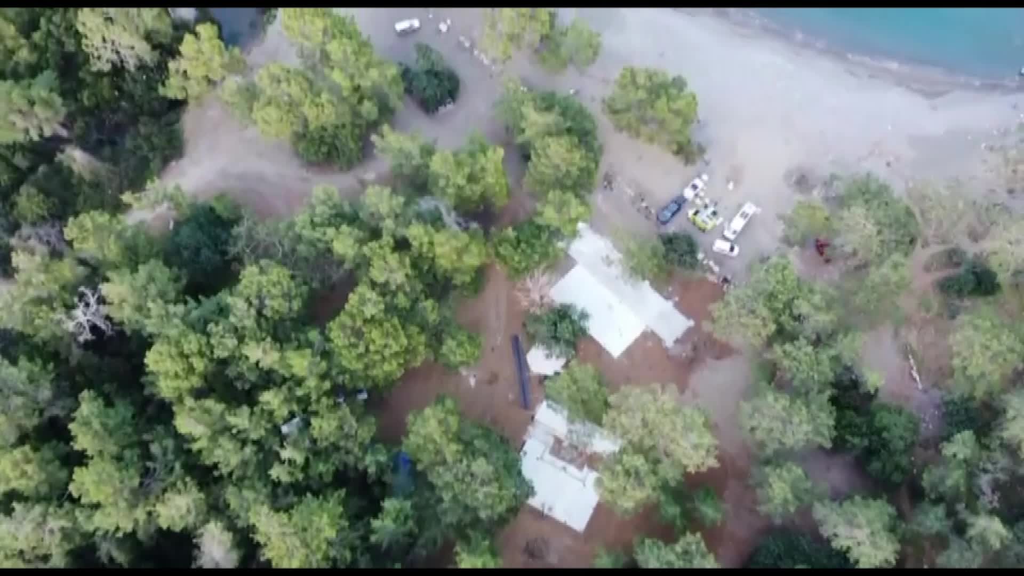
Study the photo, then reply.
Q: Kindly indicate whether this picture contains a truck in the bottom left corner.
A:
No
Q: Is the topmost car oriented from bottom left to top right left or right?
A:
right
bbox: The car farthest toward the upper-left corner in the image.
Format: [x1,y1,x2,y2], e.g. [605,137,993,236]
[392,16,422,33]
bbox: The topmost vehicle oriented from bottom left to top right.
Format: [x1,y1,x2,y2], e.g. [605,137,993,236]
[682,174,710,199]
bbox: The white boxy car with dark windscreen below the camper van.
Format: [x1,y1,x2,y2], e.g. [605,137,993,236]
[712,239,742,255]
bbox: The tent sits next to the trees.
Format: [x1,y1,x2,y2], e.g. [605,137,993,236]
[282,408,313,434]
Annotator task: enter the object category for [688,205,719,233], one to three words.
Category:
car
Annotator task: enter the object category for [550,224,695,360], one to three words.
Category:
building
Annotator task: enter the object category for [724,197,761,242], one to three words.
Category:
van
